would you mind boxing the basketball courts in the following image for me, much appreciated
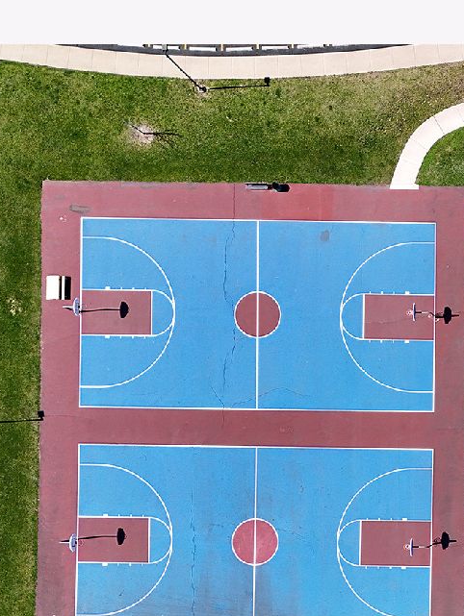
[75,445,434,616]
[79,218,436,413]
